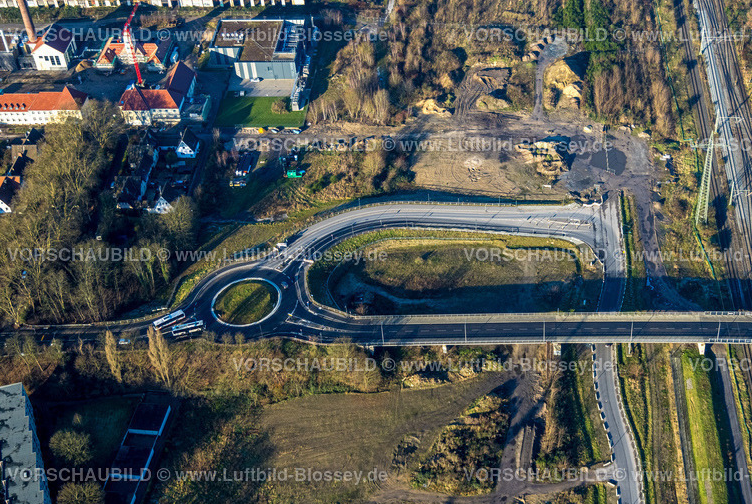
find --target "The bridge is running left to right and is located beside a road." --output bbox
[359,308,752,362]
